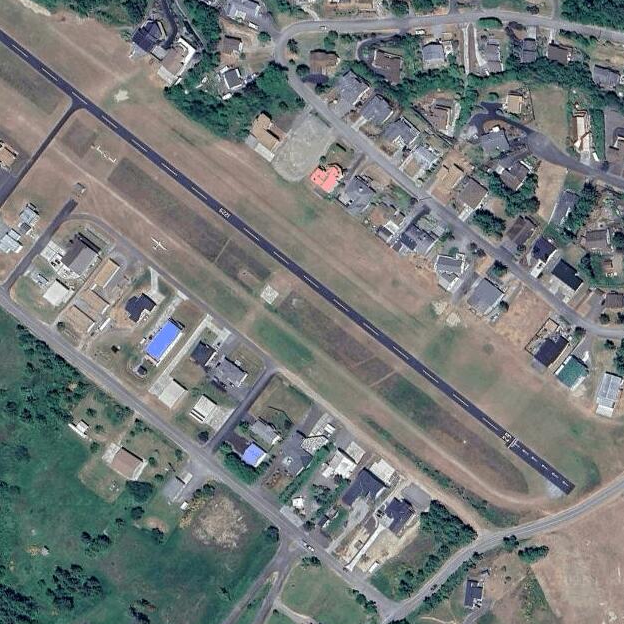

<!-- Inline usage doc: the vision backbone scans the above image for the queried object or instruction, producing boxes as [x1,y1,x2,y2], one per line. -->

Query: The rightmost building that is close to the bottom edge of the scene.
[463,581,484,607]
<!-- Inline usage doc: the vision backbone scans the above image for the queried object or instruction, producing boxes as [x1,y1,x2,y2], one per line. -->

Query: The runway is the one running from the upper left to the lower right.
[0,26,575,493]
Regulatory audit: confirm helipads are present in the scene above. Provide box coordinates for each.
[261,285,279,304]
